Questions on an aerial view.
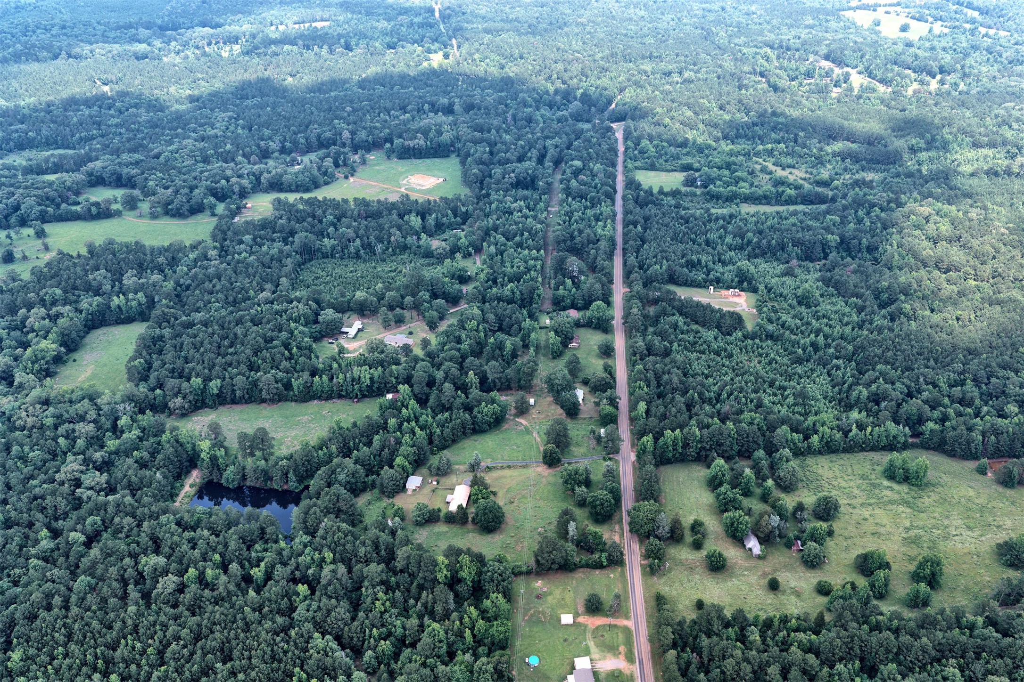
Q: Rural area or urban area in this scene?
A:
rural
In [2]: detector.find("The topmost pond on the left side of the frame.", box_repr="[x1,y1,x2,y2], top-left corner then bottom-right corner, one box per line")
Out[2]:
[186,481,314,551]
